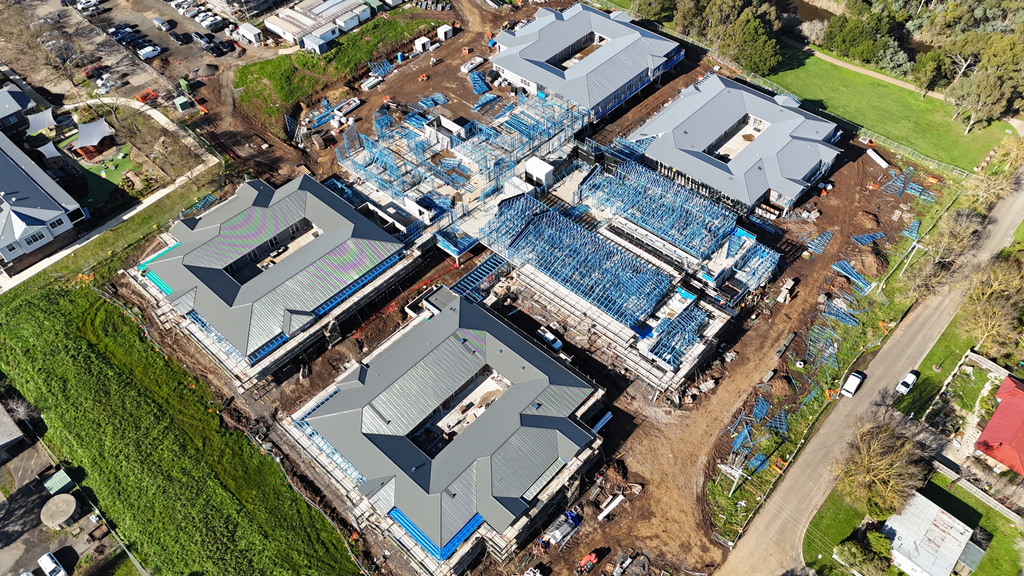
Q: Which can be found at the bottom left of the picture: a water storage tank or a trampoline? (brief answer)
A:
water storage tank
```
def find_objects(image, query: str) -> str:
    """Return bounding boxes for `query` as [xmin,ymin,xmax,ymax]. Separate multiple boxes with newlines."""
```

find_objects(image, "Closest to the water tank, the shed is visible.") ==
[41,468,77,496]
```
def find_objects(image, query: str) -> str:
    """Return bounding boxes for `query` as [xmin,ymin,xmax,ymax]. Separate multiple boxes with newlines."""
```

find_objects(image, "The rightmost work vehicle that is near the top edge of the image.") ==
[502,10,517,28]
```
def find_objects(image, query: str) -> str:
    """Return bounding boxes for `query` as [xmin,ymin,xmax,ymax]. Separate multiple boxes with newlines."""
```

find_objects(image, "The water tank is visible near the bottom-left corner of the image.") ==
[42,493,87,533]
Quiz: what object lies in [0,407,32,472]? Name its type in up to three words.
shed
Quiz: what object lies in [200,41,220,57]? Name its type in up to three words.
vehicle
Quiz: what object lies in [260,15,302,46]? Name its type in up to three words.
building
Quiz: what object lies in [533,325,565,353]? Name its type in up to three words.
truck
